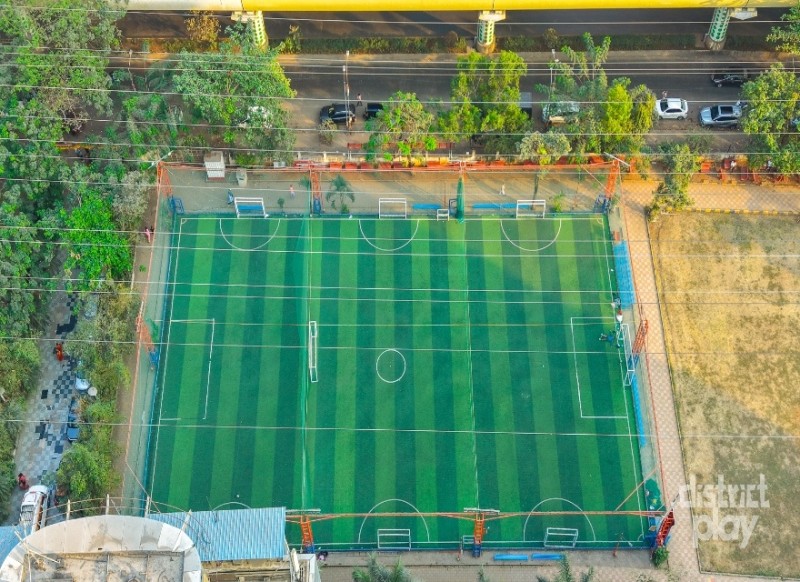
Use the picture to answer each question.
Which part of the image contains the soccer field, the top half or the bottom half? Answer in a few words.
bottom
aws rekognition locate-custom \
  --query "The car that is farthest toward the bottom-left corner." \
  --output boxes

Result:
[10,484,48,527]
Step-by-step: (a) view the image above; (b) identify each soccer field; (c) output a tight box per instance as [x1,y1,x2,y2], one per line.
[139,211,655,552]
